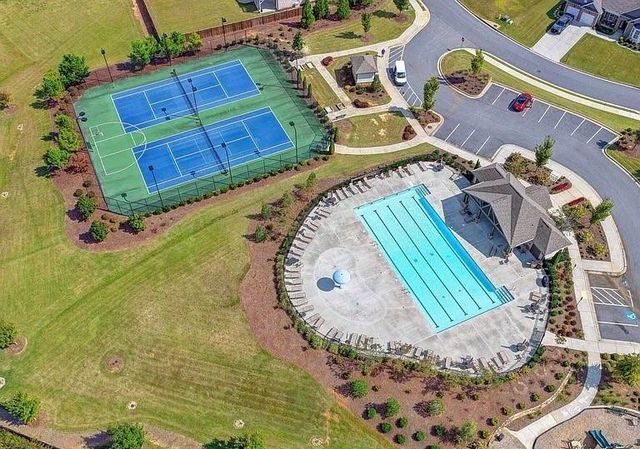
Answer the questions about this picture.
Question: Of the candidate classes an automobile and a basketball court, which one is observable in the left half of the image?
basketball court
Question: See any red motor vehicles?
Yes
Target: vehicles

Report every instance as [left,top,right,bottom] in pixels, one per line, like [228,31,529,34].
[394,61,409,84]
[512,92,532,111]
[552,12,574,33]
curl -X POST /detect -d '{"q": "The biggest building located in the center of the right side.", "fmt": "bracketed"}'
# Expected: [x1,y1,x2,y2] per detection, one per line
[459,162,572,266]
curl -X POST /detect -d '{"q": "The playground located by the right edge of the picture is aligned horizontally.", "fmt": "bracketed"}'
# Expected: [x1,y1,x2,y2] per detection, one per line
[532,407,640,449]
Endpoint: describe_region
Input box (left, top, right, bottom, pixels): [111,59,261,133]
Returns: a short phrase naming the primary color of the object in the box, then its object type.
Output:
blue tennis court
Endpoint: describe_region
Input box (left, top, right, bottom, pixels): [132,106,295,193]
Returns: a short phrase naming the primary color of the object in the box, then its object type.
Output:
blue tennis court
